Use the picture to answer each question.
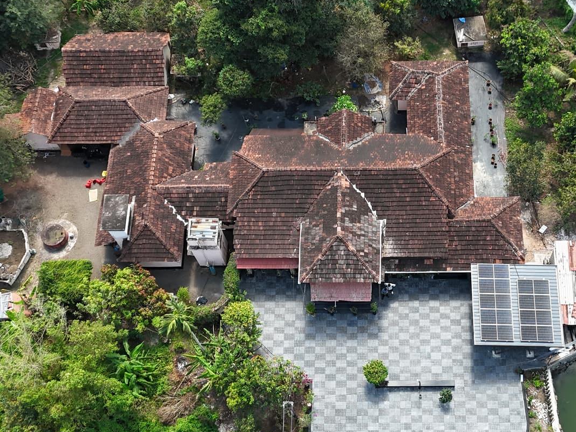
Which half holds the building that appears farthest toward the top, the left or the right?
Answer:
right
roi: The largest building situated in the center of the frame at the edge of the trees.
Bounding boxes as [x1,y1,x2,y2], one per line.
[155,58,526,314]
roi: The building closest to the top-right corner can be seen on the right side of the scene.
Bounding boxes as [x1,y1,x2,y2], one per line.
[453,15,487,56]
